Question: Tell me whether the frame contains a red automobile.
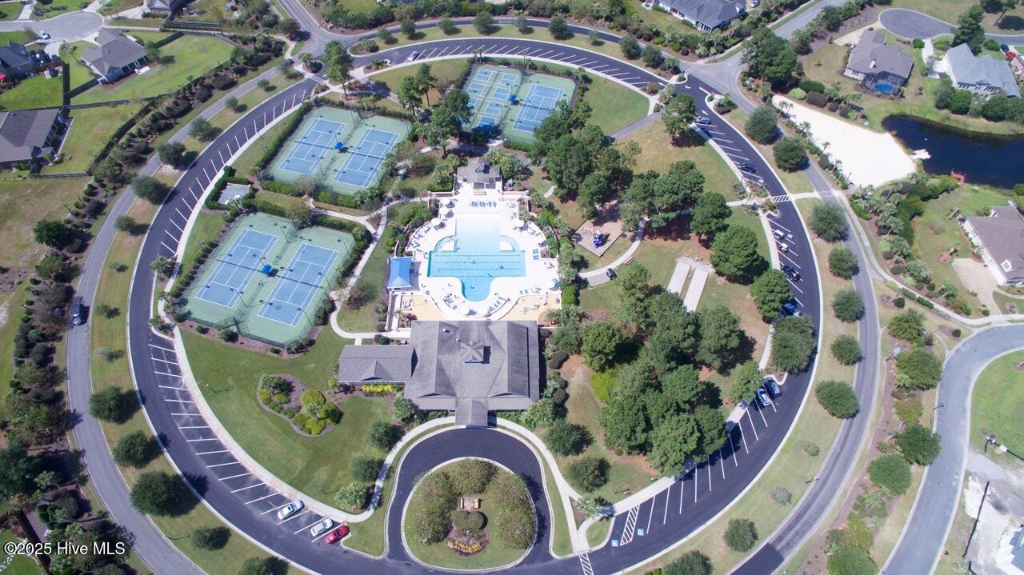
Yes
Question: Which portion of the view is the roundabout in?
bottom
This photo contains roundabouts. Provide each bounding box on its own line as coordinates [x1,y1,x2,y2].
[383,427,555,575]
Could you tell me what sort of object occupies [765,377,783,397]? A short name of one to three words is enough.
car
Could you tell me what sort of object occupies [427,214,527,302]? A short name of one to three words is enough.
swimming pool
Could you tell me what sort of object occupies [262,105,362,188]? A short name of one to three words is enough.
tennis court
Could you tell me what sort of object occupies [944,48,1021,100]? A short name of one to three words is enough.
house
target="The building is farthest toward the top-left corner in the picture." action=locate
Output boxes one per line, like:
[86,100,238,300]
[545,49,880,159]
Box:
[0,43,43,87]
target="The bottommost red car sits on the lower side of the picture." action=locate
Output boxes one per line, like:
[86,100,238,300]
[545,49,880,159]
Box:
[323,524,348,544]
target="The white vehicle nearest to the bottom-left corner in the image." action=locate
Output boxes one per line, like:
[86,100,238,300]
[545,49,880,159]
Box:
[277,499,301,519]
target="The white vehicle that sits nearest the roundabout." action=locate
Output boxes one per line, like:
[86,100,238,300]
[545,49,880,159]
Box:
[308,516,333,537]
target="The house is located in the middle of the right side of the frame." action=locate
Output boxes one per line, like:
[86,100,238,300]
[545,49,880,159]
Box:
[964,205,1024,286]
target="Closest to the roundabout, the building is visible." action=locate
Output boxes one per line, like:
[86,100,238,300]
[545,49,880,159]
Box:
[337,318,540,431]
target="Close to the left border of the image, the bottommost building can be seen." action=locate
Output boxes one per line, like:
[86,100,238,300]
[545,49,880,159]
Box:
[0,109,61,170]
